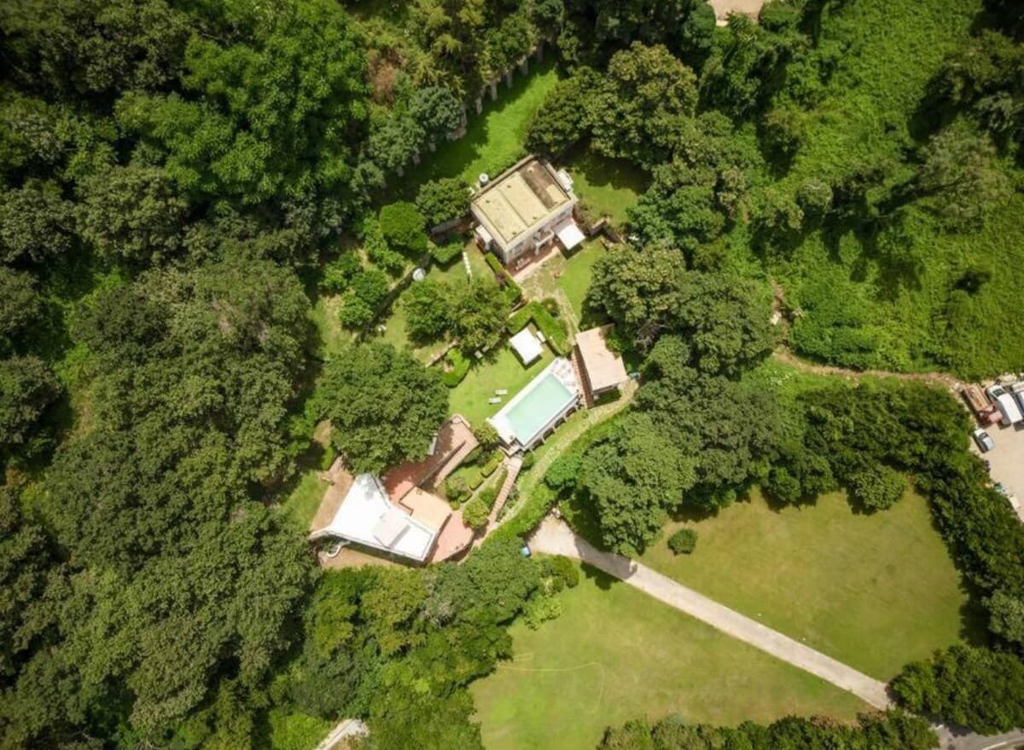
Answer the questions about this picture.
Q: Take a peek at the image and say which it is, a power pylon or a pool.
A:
pool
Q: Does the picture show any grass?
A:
Yes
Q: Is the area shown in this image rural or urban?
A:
rural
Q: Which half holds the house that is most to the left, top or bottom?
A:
bottom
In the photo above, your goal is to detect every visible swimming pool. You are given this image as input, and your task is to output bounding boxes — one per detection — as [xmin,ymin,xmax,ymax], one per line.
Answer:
[487,359,580,456]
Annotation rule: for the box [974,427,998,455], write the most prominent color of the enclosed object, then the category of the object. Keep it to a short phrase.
white car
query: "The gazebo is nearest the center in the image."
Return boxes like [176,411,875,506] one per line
[510,328,543,367]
